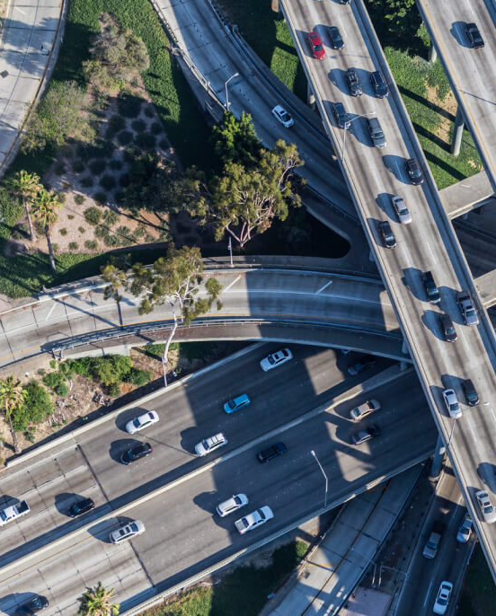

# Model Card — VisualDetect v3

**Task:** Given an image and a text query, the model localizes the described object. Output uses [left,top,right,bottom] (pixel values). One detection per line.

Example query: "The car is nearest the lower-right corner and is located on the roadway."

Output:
[434,582,452,615]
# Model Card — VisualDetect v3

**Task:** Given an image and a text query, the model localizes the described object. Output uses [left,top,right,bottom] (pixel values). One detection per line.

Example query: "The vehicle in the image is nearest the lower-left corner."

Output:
[14,595,49,616]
